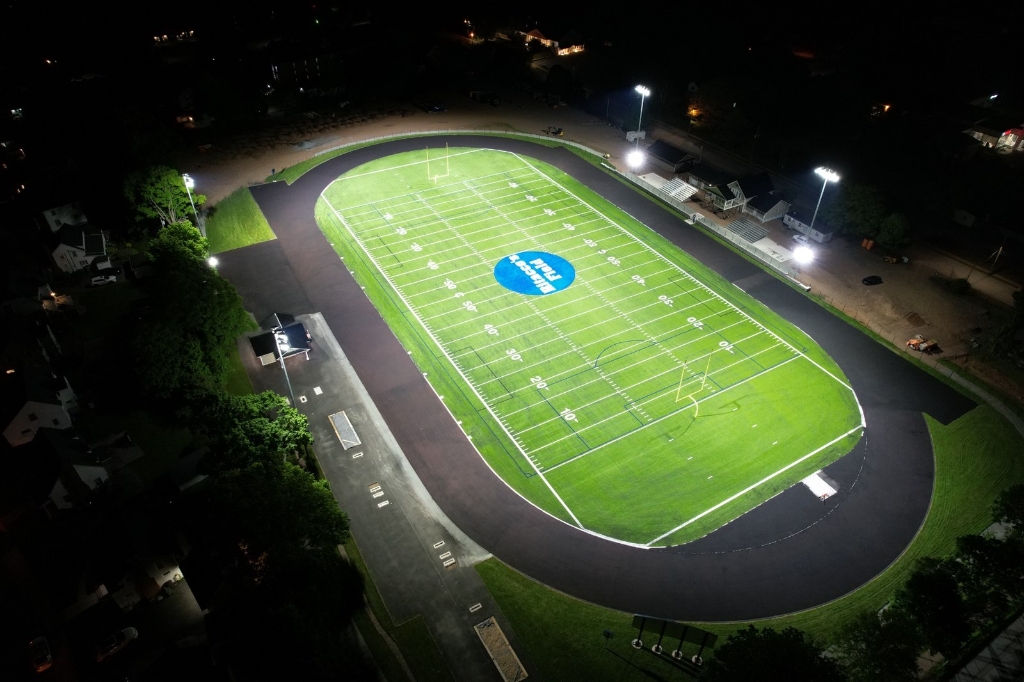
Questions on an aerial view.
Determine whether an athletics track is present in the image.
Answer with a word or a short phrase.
Yes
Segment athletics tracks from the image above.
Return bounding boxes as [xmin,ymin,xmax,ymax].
[249,136,981,620]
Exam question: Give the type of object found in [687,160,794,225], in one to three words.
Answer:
building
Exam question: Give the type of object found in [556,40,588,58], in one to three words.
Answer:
house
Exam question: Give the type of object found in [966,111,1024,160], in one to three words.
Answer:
building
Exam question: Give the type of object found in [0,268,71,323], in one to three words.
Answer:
house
